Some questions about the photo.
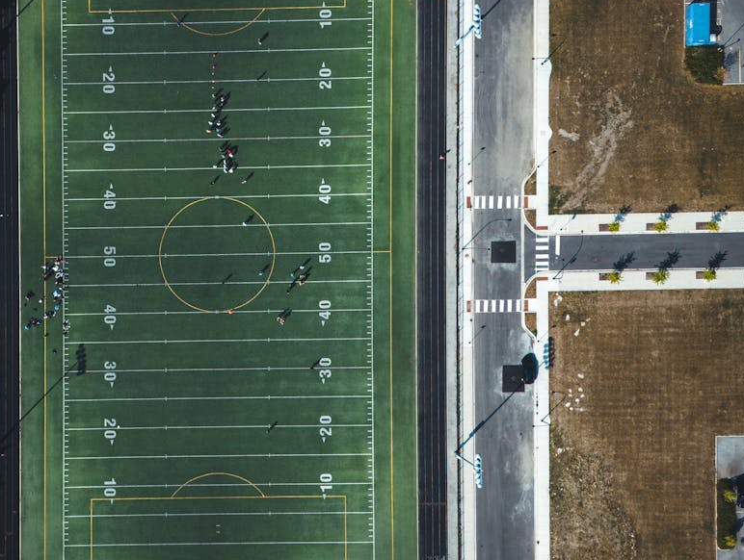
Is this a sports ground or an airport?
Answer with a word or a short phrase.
sports ground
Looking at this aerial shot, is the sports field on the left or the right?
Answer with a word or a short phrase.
left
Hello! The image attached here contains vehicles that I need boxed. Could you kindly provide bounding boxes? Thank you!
[735,476,744,507]
[522,360,536,387]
